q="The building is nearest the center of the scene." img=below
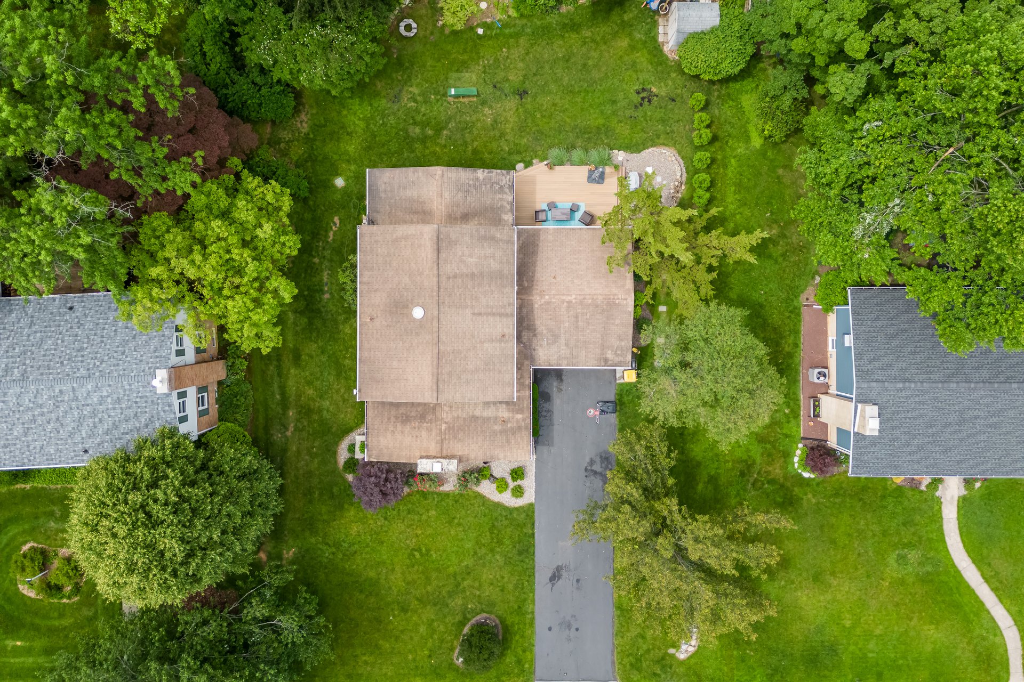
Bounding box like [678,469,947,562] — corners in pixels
[353,164,633,472]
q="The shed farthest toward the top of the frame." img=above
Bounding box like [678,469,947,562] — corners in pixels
[668,6,719,52]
